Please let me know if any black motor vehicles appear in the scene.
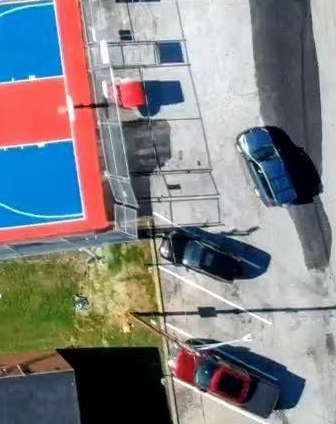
Yes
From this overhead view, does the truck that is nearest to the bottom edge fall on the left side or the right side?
right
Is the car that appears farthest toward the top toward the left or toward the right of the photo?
right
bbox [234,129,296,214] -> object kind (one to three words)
car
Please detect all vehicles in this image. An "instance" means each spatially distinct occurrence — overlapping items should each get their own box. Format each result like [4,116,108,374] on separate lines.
[234,129,296,214]
[171,349,279,413]
[160,235,248,288]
